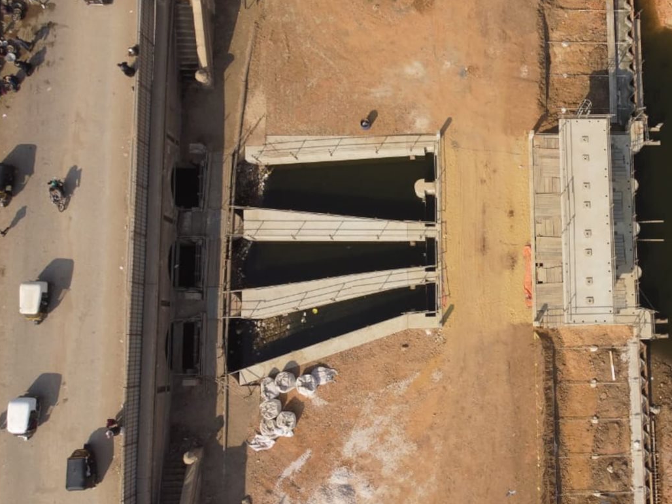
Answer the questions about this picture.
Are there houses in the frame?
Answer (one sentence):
No, there is no house in the image.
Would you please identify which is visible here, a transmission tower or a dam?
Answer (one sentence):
Of the two, only a dam appears.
